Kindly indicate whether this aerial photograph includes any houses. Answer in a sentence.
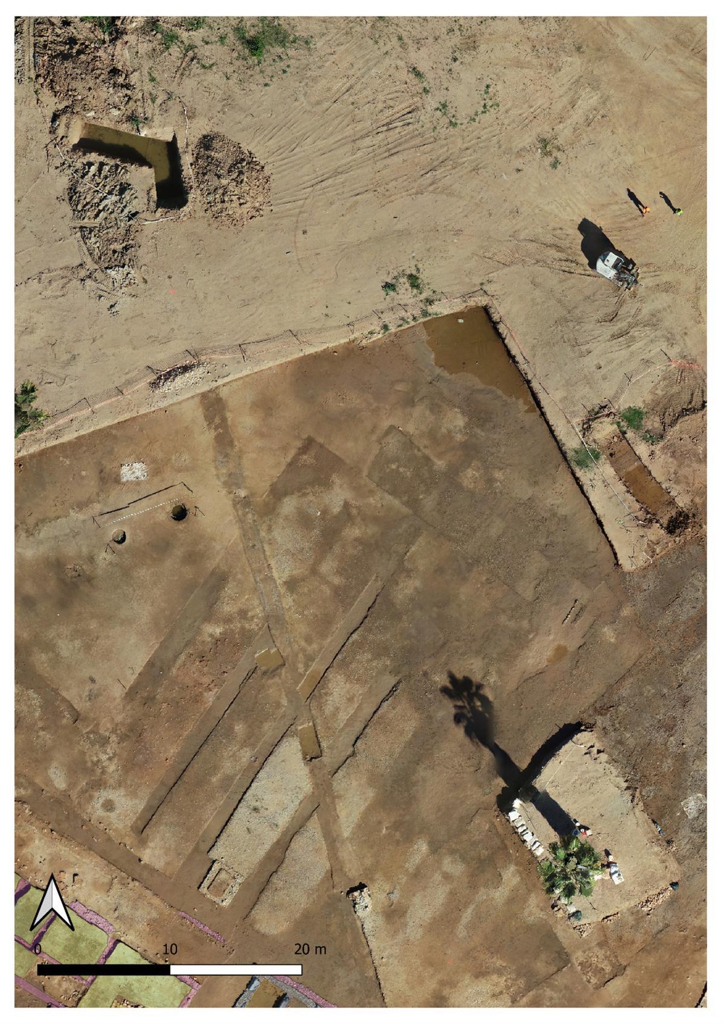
No, there's no house here.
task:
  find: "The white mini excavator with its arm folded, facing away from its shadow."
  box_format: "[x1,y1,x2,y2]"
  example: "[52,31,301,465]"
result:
[594,249,638,289]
